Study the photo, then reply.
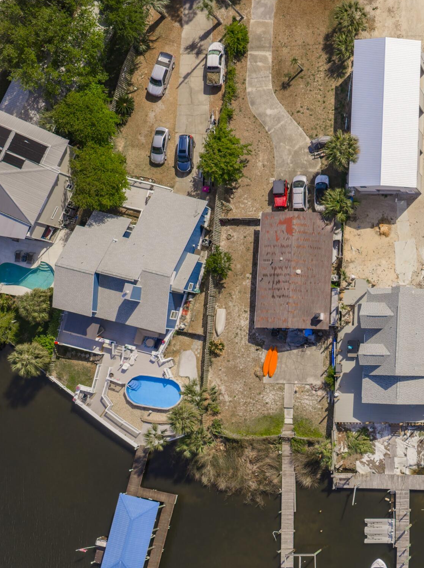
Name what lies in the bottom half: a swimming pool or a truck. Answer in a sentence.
You can see a swimming pool in the bottom half.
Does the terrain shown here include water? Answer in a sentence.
Yes, there's water in this view.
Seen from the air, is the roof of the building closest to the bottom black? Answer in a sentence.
No, the roof of the building closest to the bottom is actually blue.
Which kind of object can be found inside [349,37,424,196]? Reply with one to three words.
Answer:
barn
